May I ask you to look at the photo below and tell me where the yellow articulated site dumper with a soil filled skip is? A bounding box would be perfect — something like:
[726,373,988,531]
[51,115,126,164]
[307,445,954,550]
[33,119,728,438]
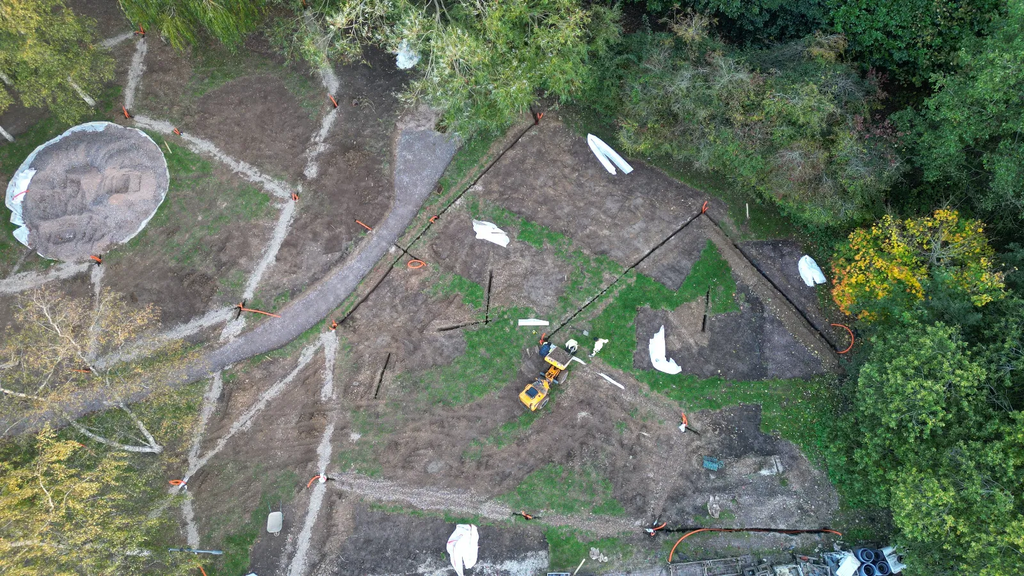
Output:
[515,343,573,411]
